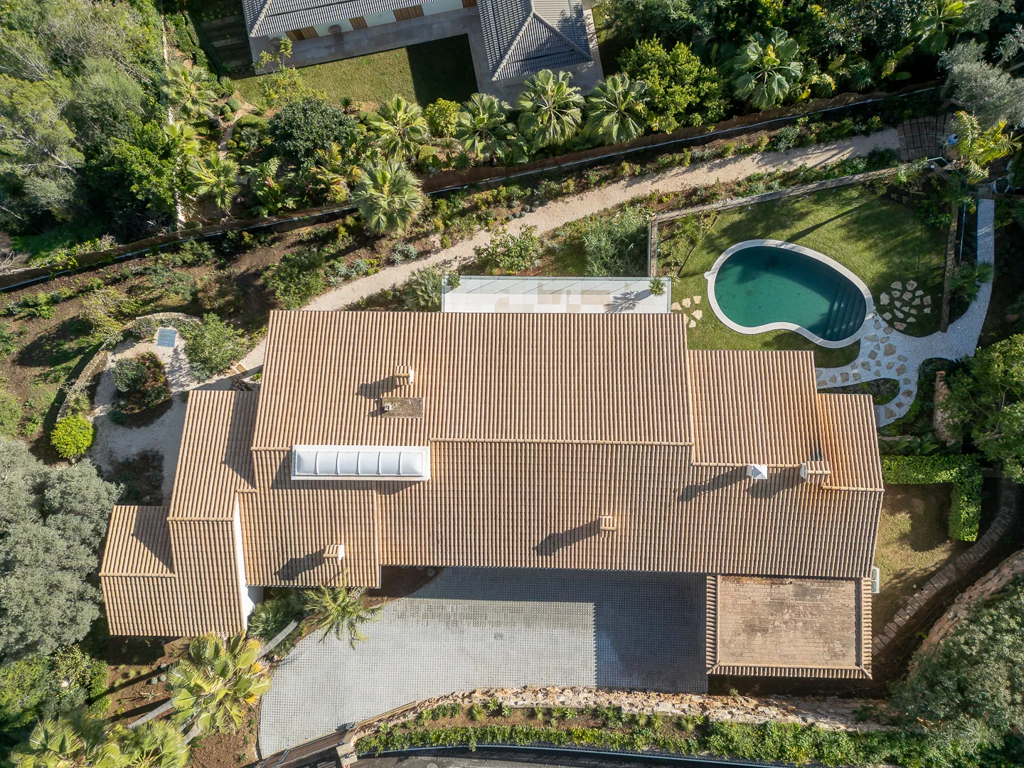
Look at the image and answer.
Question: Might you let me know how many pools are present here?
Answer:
1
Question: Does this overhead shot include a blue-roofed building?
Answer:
No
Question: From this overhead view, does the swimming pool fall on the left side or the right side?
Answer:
right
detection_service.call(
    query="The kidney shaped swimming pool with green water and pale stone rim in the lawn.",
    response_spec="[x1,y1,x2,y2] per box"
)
[702,239,874,348]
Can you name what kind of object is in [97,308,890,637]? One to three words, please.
house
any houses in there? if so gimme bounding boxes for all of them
[249,0,594,82]
[97,308,890,637]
